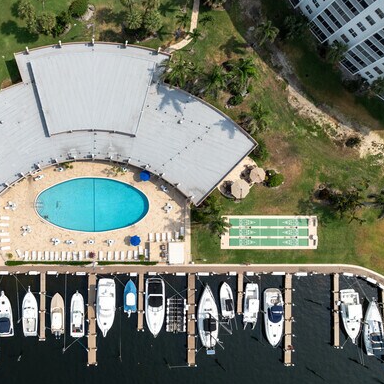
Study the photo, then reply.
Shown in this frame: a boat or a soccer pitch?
boat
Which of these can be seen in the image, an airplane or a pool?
pool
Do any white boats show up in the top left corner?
No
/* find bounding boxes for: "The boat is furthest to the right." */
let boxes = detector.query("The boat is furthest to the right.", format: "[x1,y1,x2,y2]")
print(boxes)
[361,300,384,355]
